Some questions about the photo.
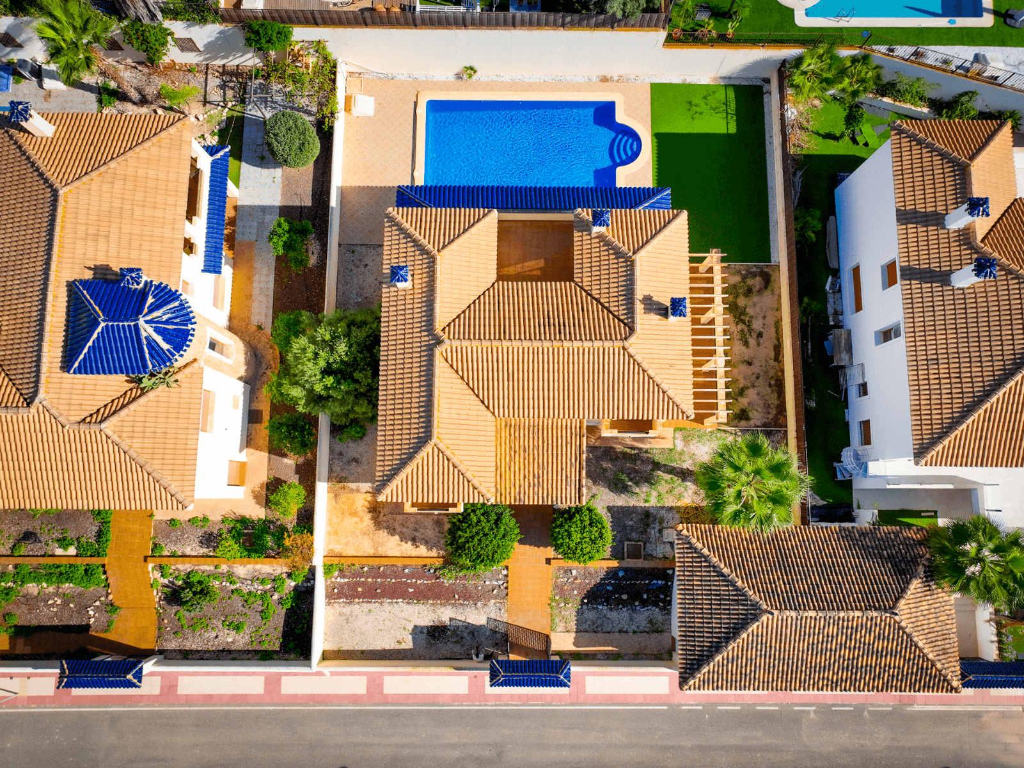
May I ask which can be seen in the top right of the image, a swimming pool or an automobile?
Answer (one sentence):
The one visible in the top right of the image is a swimming pool.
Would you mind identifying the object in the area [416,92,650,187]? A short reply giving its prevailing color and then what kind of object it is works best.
blue swimming pool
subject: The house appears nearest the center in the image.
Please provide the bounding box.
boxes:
[375,184,697,515]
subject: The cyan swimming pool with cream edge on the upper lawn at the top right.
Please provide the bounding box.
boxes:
[769,0,990,30]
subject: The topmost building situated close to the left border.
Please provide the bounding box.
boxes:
[0,98,263,511]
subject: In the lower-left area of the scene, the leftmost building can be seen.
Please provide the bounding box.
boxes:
[54,658,163,690]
